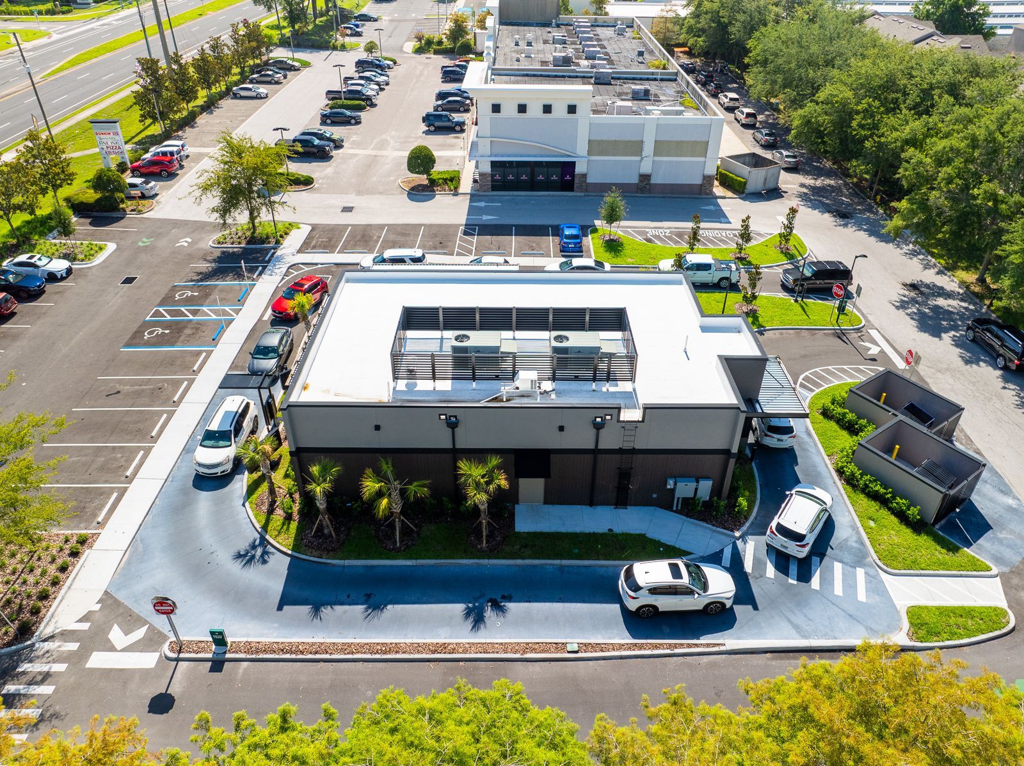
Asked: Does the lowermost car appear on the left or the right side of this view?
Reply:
right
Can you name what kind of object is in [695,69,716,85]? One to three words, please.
car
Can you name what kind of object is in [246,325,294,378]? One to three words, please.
car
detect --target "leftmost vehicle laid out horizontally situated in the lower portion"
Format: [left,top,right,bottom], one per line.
[614,560,740,621]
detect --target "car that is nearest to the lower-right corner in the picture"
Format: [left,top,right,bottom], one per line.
[759,487,835,571]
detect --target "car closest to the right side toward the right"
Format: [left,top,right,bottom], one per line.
[957,317,1024,377]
